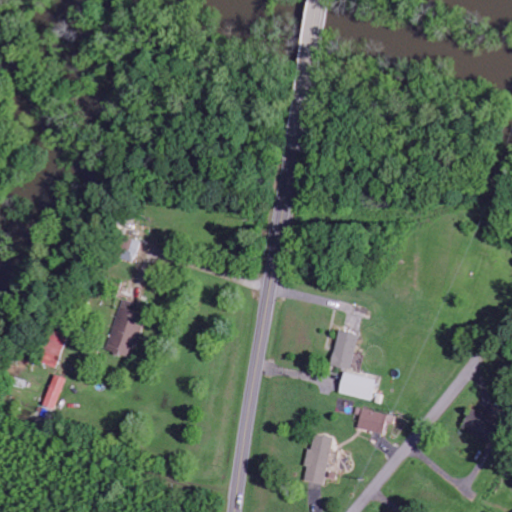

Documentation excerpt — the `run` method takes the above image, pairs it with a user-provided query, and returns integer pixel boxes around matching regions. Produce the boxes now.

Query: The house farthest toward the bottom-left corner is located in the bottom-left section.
[40,374,66,412]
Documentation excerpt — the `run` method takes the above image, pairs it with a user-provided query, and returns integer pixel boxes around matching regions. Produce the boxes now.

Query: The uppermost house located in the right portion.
[332,330,358,372]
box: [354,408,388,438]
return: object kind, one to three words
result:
house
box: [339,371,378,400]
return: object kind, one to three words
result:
building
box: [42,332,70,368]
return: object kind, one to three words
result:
barn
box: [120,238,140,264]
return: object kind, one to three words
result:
building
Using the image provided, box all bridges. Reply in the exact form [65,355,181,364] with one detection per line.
[300,0,328,47]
